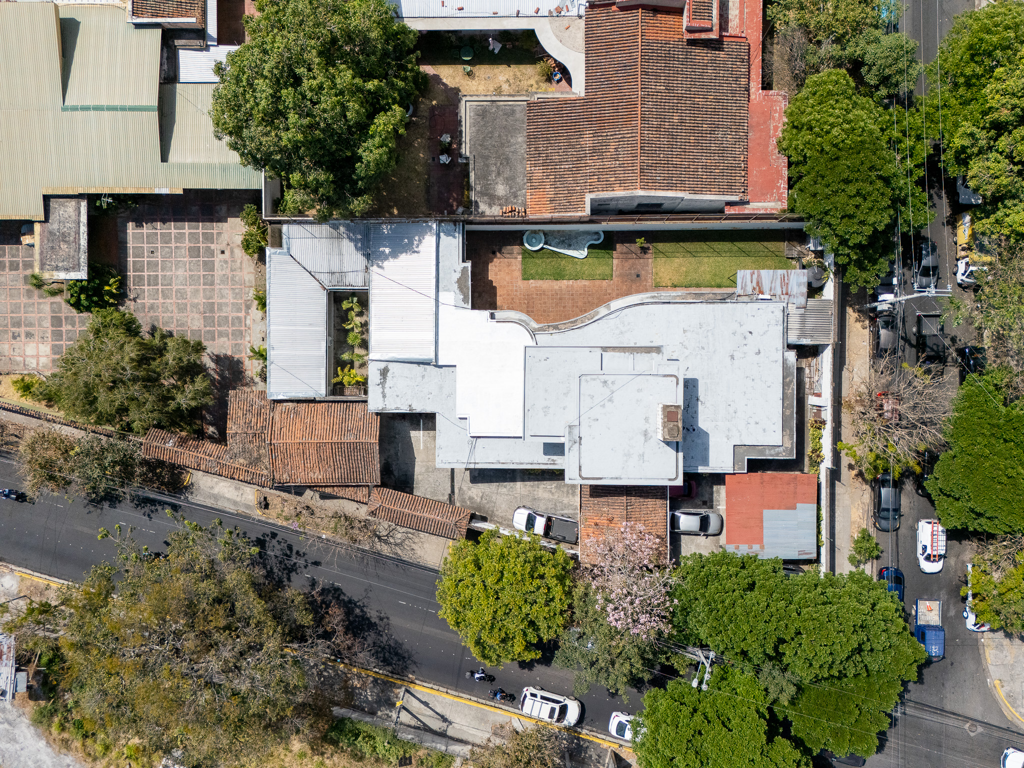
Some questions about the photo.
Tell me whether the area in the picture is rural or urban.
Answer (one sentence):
This place is urban.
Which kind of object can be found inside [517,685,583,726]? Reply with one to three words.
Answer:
car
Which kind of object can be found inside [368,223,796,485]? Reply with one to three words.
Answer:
house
